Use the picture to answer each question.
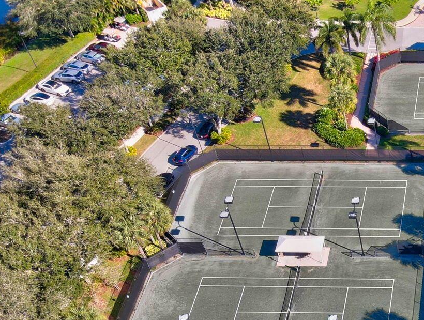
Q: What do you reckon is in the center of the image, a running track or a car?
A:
car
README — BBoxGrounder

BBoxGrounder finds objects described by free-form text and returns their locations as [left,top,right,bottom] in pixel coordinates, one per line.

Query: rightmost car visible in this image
[191,119,220,142]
